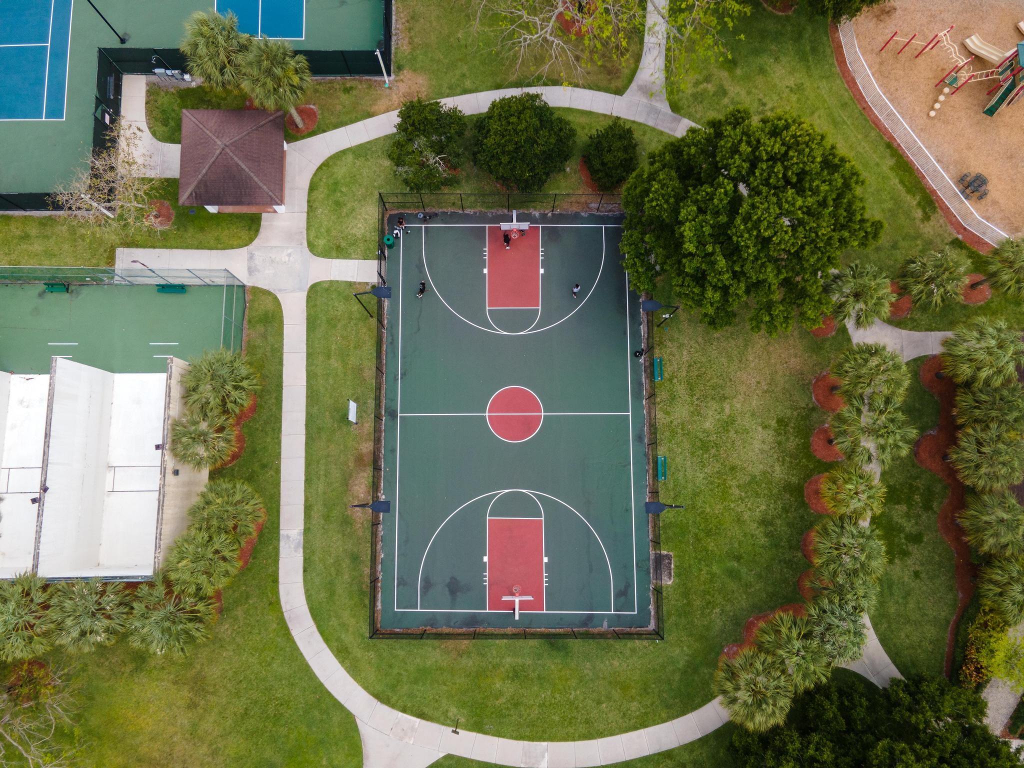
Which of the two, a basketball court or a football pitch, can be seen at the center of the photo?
basketball court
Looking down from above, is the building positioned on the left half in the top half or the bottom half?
top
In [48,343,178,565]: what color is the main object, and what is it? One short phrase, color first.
white sports court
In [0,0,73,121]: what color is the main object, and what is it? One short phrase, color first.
blue tennis court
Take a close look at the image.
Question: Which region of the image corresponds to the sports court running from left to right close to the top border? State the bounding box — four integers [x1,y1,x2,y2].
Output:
[215,0,304,39]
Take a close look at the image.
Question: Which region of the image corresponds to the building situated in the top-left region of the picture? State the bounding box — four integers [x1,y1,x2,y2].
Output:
[178,109,286,213]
